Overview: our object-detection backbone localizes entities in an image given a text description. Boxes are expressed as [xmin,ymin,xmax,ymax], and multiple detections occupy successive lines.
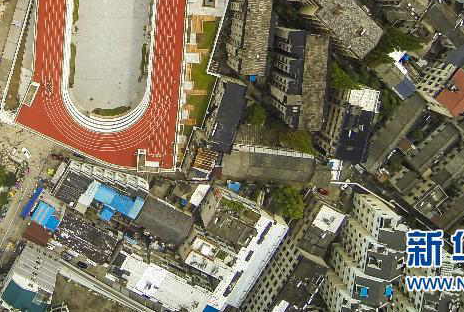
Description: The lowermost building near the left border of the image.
[2,279,52,312]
